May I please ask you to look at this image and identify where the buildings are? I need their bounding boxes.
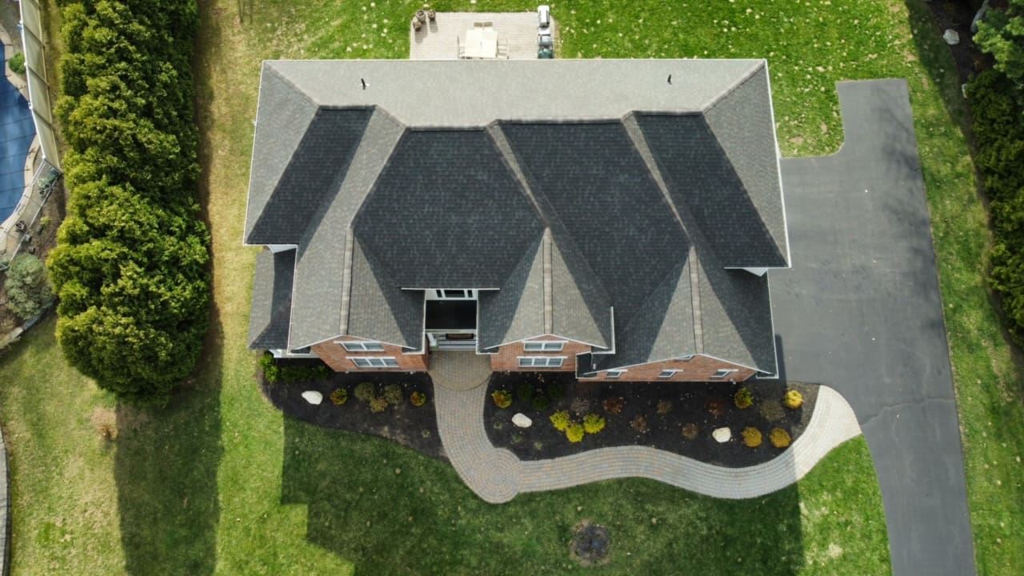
[242,58,792,383]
